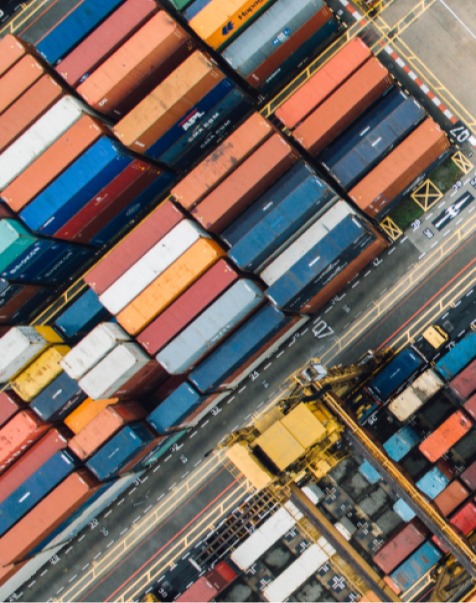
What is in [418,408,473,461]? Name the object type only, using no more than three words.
shipping container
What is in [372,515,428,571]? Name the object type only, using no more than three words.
shipping container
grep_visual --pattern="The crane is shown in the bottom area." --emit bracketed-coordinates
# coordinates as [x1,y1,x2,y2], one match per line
[207,344,476,603]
